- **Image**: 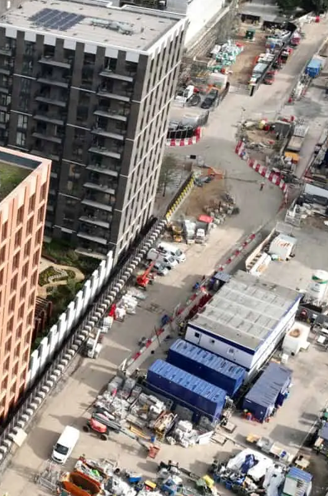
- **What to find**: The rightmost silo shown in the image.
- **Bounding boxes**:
[305,261,328,311]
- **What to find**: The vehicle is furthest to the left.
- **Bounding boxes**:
[54,420,83,462]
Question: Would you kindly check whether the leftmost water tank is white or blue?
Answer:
white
